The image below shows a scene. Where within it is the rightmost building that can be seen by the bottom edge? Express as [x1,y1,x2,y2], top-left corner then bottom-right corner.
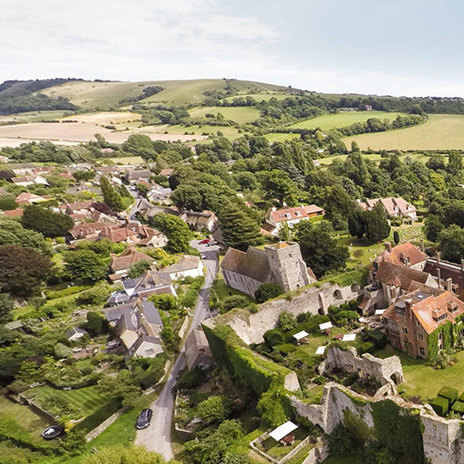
[419,396,462,464]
